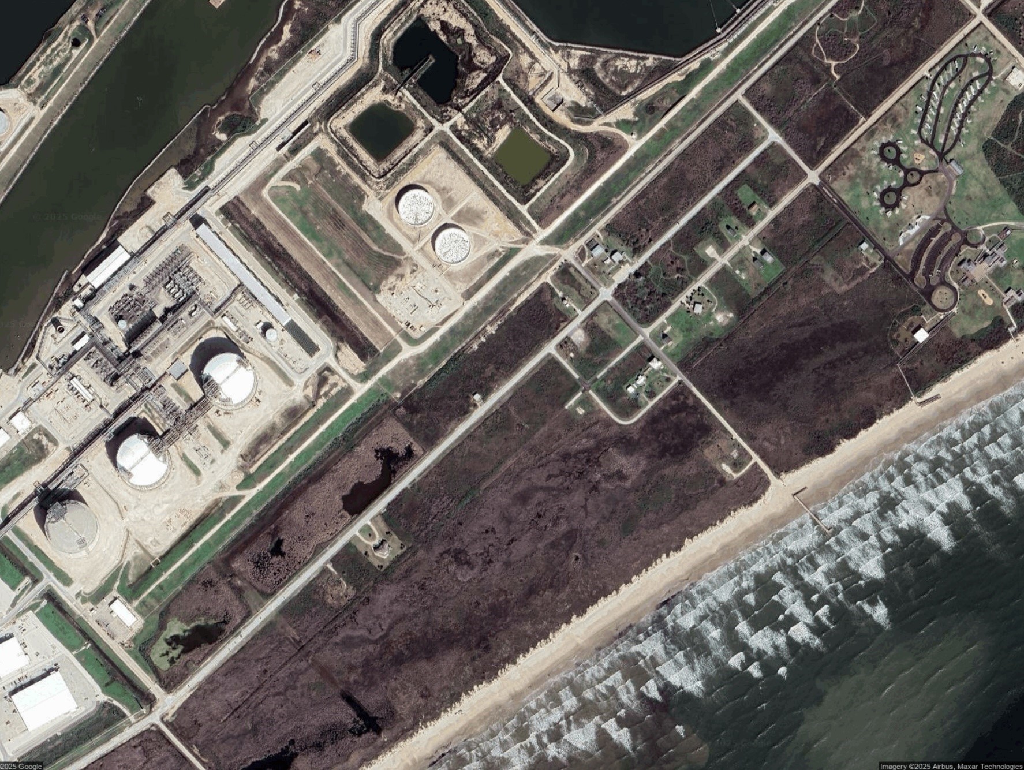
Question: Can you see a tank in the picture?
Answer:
Yes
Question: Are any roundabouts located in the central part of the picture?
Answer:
No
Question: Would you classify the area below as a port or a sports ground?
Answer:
port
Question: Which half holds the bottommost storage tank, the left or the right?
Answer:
left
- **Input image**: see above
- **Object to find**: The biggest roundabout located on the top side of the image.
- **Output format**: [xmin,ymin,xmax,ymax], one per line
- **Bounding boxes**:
[928,283,958,312]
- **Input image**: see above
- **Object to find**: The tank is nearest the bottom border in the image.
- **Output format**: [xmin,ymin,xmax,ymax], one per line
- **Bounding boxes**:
[44,501,101,559]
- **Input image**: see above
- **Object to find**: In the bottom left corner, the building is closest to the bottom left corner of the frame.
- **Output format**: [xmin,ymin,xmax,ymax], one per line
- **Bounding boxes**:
[11,671,78,733]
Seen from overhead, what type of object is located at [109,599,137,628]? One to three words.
building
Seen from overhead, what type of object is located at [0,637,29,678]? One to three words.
building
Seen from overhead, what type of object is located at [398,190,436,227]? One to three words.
storage tank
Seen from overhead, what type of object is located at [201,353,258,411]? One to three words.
storage tank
